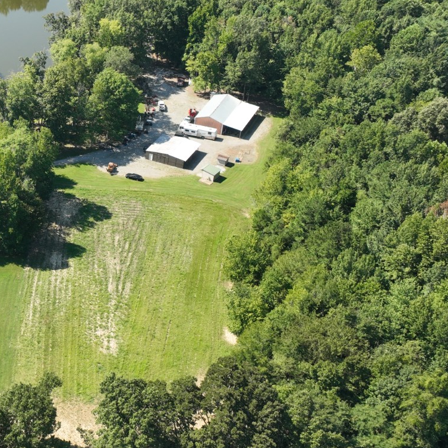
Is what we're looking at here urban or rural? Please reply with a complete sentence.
From above, the setting appears rural.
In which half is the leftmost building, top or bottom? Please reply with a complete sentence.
The top half of the photo is where the leftmost building is.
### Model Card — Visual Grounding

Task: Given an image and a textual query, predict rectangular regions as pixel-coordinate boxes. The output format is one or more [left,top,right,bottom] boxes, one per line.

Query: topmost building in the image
[195,94,258,139]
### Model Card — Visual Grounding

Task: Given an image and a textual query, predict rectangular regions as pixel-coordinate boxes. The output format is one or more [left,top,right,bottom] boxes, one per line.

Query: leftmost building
[146,134,198,168]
